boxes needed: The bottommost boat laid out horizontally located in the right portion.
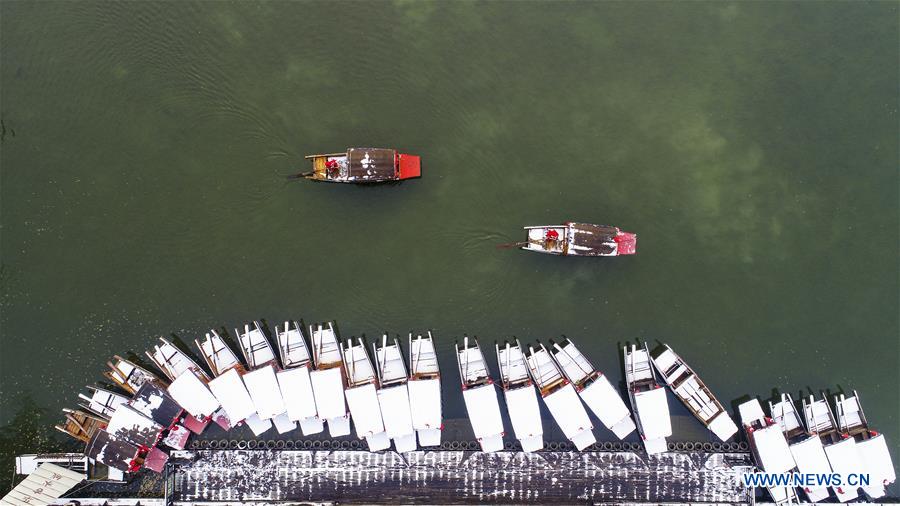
[523,225,637,257]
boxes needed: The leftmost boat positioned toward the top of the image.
[305,149,419,182]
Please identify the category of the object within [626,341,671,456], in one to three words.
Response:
boat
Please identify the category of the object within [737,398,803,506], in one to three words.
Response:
boat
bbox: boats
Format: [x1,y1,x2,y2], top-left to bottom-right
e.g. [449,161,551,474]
[275,322,323,437]
[456,339,504,453]
[801,392,864,505]
[551,340,636,441]
[76,387,189,450]
[54,409,168,473]
[236,322,298,433]
[523,225,637,257]
[15,452,128,482]
[340,338,390,452]
[194,330,272,437]
[524,344,598,452]
[408,332,442,447]
[497,339,544,454]
[626,341,671,456]
[832,390,893,504]
[737,398,803,506]
[768,394,834,505]
[103,356,208,436]
[374,339,417,454]
[305,149,419,182]
[144,337,236,430]
[652,345,740,443]
[309,322,351,437]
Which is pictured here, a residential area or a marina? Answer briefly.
marina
